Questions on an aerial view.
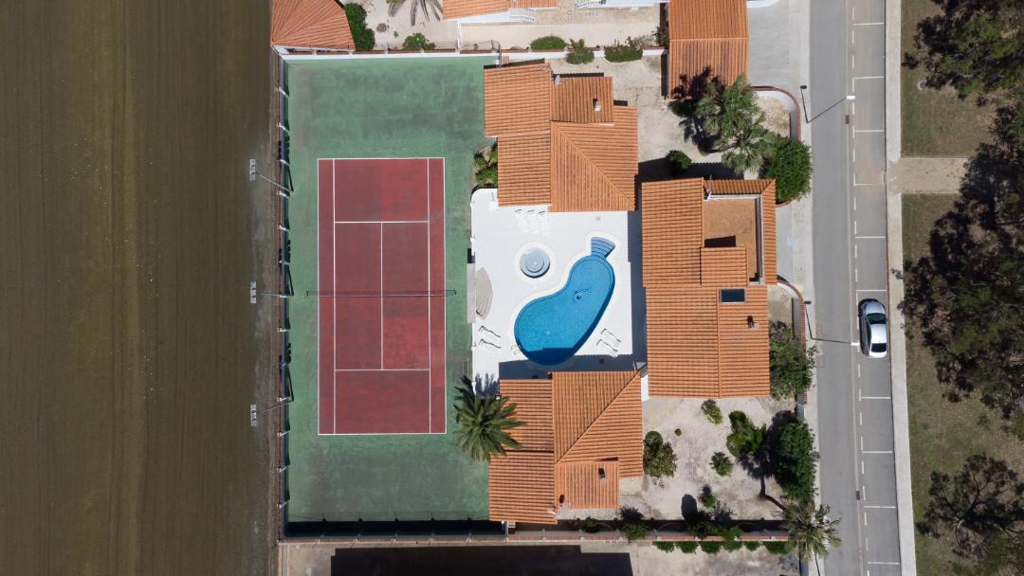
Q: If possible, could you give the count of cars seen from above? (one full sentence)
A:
I count just 1 car.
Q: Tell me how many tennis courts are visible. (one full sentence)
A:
There is 1 tennis court in the image.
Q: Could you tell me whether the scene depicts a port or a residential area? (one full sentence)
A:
The picture captures a residential area.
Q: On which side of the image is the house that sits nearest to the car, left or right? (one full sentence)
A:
The house that sits nearest to the car sits on the right side.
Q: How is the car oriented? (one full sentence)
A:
I'd say the car is aligned up and down in the picture.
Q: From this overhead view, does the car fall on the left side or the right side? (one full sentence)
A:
The car sits on the right side.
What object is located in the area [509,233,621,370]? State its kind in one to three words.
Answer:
swimming pool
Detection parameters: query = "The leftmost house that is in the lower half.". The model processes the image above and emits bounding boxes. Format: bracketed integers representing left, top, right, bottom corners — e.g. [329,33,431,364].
[488,371,645,526]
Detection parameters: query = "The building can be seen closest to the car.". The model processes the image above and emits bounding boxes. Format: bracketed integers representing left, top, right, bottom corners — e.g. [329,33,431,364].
[642,177,779,398]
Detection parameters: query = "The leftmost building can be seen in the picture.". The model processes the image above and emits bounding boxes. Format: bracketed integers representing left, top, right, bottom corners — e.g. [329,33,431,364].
[272,0,356,51]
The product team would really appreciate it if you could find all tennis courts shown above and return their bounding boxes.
[287,59,499,531]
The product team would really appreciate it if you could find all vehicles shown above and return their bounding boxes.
[861,303,890,357]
